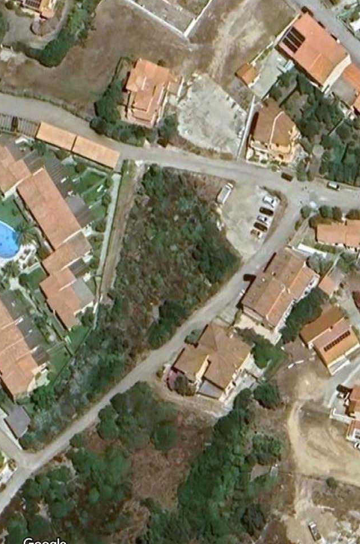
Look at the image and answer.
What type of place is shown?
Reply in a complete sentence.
What you see here is a residential area.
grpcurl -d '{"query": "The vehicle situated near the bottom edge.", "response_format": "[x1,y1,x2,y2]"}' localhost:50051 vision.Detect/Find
[308,523,320,542]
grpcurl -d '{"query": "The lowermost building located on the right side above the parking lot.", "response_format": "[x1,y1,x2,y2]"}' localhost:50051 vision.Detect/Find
[247,102,299,162]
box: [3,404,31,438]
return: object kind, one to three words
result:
building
